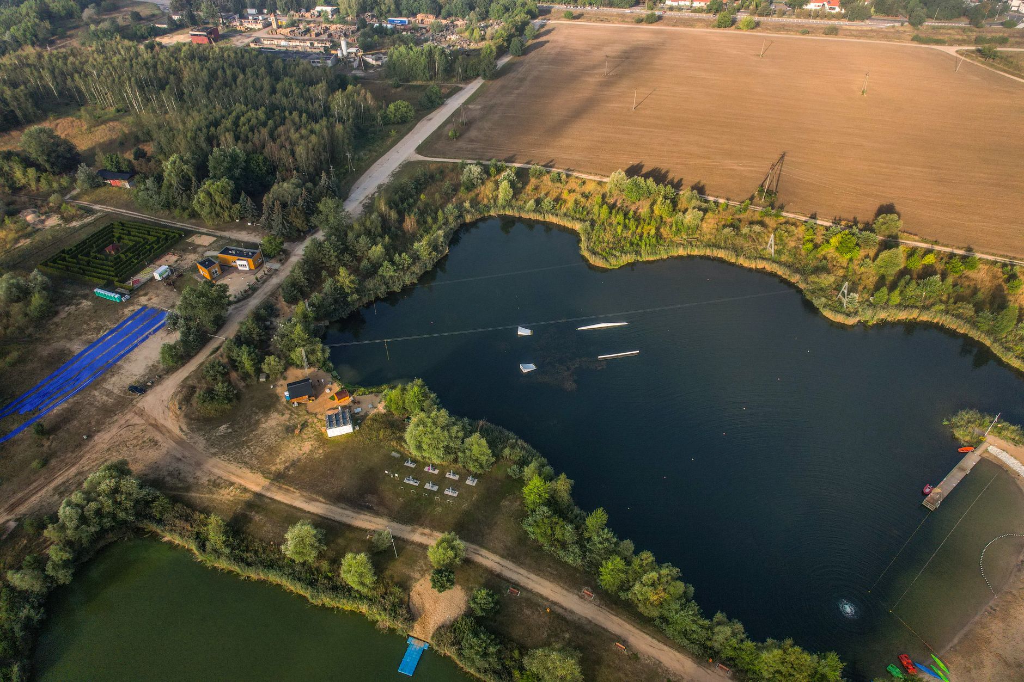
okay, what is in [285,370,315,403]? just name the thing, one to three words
shed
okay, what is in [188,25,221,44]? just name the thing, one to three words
shed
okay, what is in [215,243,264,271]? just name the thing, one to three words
building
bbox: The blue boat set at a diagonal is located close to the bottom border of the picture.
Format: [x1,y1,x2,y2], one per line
[915,662,941,679]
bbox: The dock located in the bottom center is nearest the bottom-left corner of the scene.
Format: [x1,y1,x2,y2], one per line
[395,638,428,682]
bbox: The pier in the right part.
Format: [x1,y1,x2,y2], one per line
[918,440,986,515]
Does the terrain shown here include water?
Yes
